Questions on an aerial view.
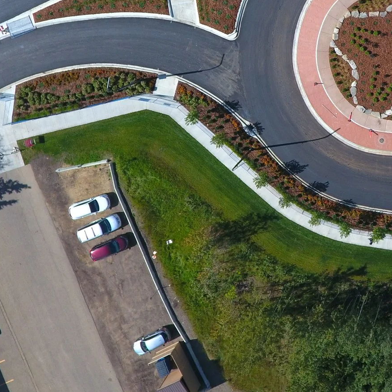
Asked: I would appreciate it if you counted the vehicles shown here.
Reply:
4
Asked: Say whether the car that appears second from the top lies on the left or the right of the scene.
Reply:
left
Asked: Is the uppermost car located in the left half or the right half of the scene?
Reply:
left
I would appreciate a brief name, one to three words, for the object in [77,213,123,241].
car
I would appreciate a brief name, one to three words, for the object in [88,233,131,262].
car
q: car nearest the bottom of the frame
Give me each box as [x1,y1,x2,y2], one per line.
[132,328,172,355]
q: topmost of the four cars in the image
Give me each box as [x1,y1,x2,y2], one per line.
[68,193,112,220]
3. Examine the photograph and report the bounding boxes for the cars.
[68,193,112,220]
[88,233,131,262]
[77,213,123,241]
[132,328,172,355]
